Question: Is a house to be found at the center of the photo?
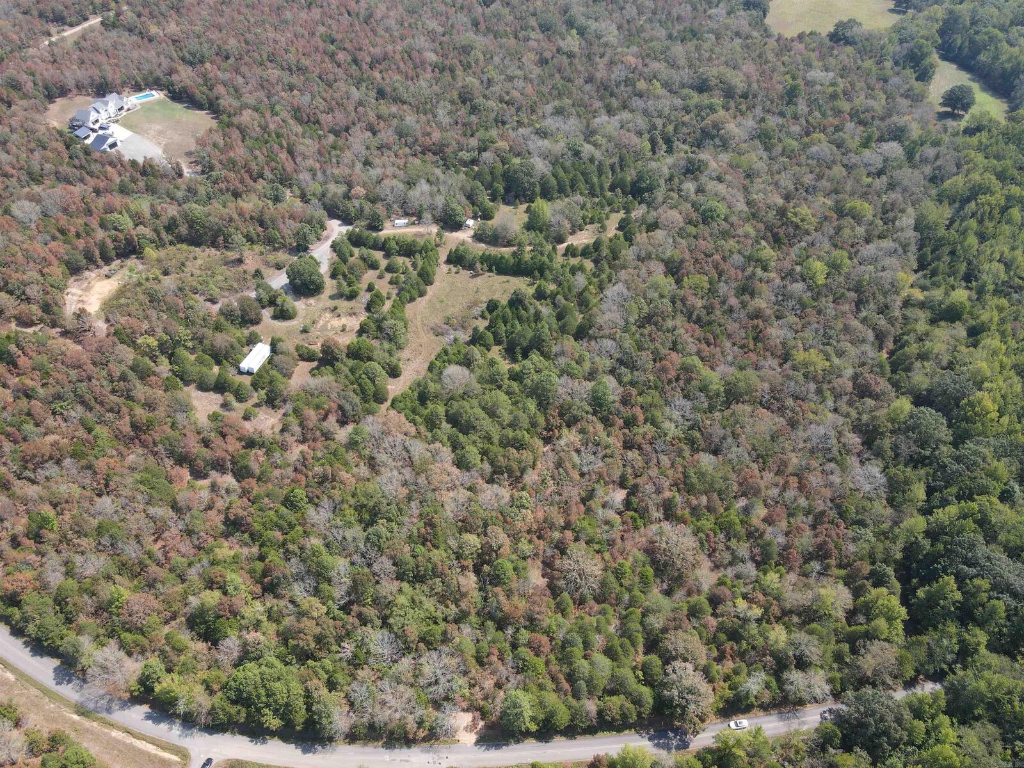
No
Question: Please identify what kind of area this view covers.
forest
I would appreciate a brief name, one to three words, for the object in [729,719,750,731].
vehicle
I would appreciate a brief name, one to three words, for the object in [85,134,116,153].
building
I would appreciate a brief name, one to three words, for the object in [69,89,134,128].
house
